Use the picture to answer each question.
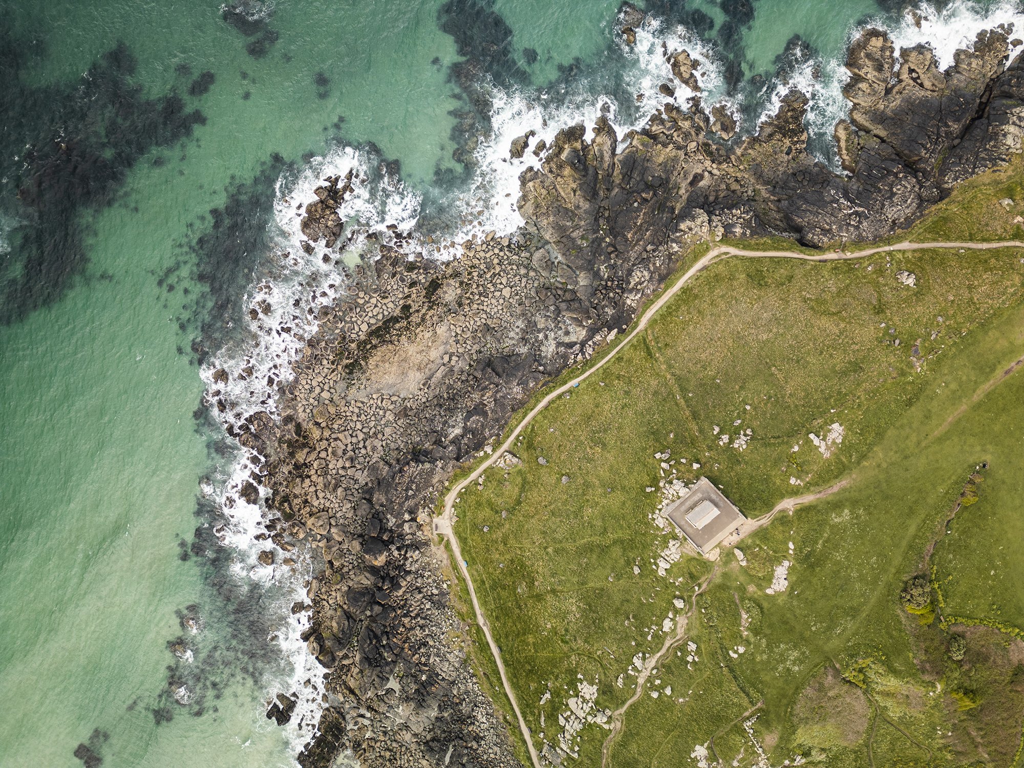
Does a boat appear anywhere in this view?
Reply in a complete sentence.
No, the frame has no boat in it.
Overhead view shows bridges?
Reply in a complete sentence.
No, there is no bridge in the image.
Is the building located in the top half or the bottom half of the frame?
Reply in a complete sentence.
The bottom half of the photo is where the building is.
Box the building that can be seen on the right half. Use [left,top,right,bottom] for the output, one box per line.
[661,474,746,557]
